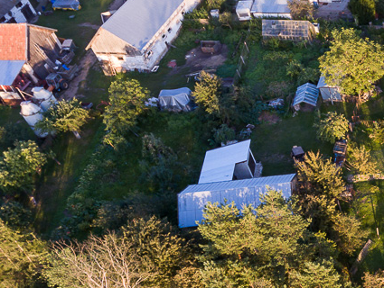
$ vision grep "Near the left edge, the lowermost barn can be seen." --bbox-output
[0,20,58,94]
